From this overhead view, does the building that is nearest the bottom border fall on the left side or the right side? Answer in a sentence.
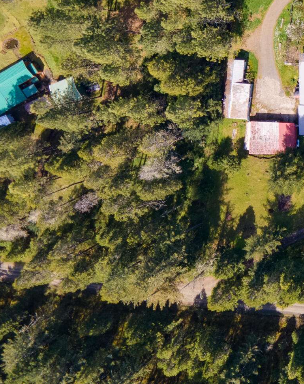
You can find the building that is nearest the bottom border on the right side of the picture.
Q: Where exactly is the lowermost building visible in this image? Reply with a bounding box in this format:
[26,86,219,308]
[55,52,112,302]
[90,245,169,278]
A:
[245,121,298,155]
